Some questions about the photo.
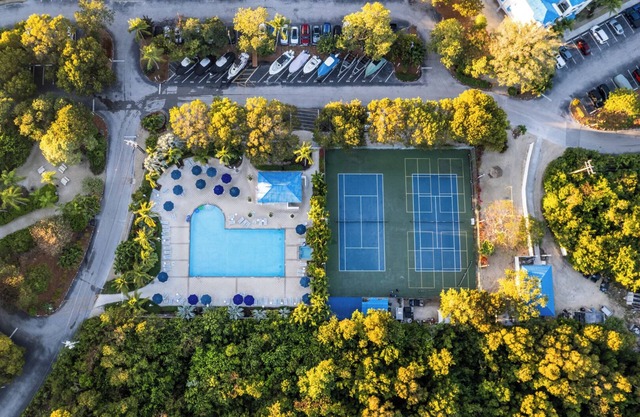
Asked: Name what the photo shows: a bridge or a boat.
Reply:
boat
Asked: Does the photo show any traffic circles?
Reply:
No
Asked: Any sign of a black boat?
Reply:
Yes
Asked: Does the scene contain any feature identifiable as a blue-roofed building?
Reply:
Yes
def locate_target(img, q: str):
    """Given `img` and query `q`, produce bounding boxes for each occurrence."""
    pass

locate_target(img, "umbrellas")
[229,186,241,198]
[171,169,182,180]
[163,201,174,212]
[221,173,232,185]
[299,292,311,304]
[206,168,217,178]
[201,293,212,305]
[152,292,164,304]
[172,184,184,196]
[299,276,311,288]
[187,293,199,305]
[213,184,224,195]
[243,294,256,306]
[191,165,203,177]
[195,178,206,189]
[295,224,306,235]
[157,271,169,283]
[231,293,244,306]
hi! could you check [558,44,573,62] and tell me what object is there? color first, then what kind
blue car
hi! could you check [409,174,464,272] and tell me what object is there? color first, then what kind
blue tennis court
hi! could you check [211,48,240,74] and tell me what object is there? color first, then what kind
black boat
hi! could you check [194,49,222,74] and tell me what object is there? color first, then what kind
black boat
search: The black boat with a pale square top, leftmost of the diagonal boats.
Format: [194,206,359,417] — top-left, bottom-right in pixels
[176,50,204,74]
